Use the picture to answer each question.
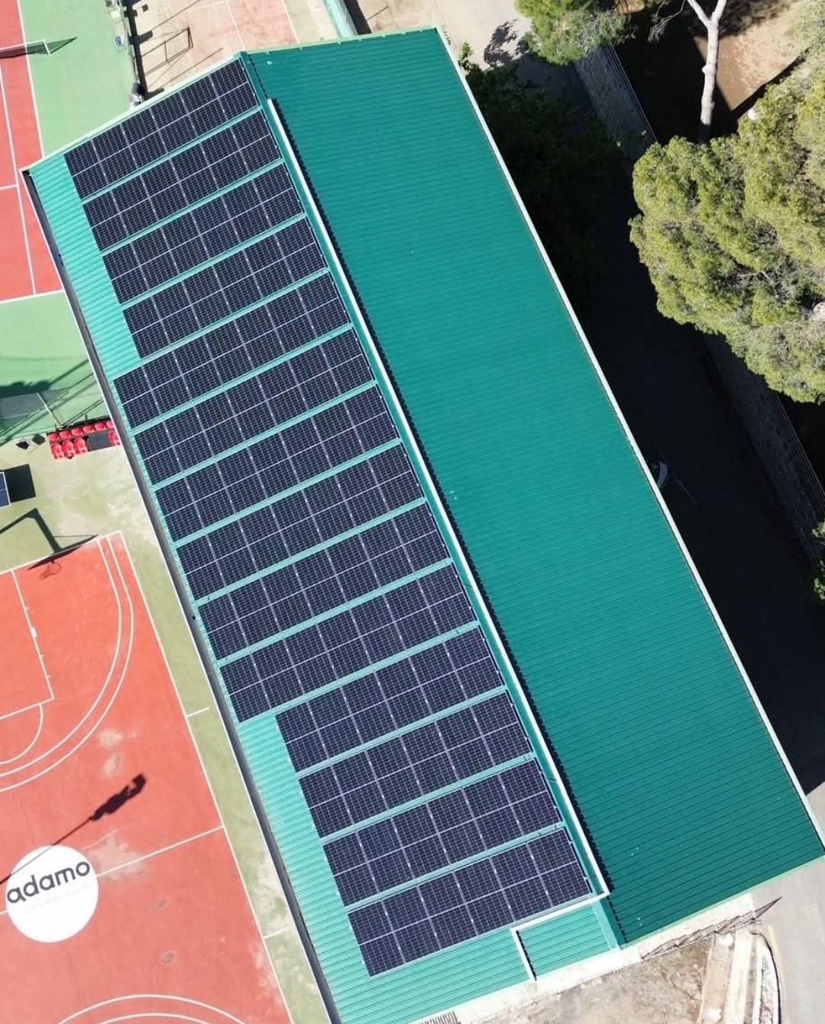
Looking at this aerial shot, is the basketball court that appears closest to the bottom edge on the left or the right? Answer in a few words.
left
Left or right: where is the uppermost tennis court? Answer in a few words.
left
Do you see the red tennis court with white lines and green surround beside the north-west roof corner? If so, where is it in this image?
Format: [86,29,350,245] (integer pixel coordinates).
[0,0,63,302]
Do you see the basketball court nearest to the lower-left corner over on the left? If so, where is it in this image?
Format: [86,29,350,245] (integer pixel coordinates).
[0,530,290,1024]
